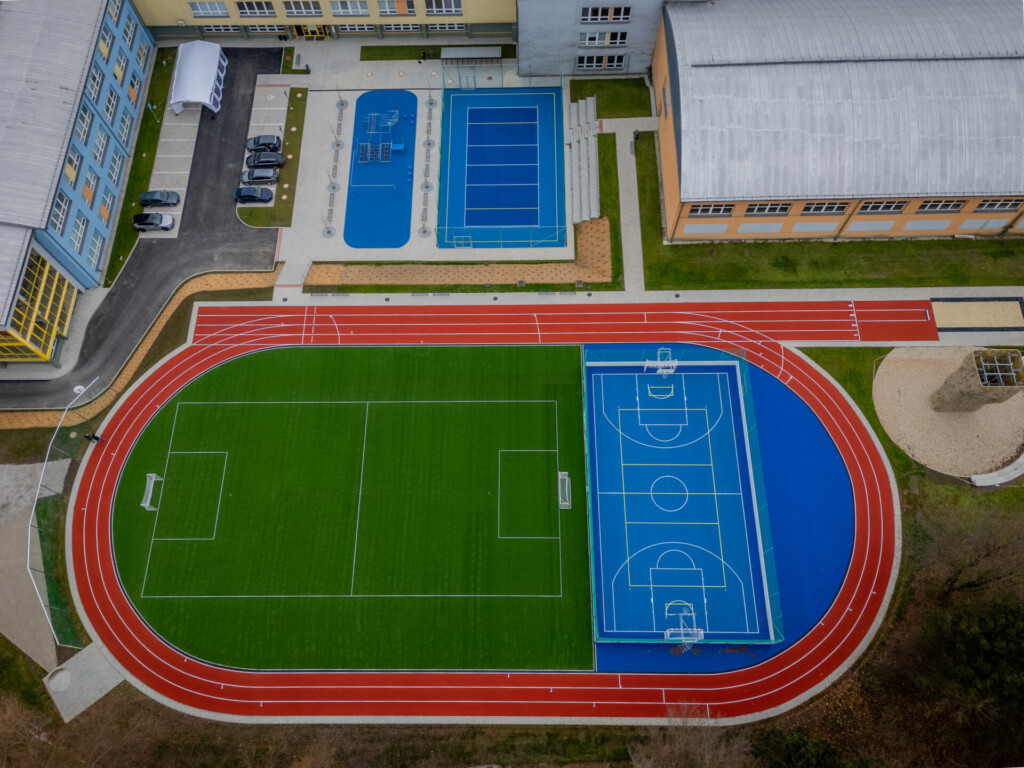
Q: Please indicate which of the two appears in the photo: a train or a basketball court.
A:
basketball court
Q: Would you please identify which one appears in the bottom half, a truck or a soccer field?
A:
soccer field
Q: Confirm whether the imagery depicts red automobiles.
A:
No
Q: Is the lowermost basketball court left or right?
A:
right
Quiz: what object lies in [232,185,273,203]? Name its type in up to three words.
car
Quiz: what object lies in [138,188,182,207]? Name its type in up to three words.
car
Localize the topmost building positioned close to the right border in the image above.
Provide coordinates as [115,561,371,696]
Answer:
[652,0,1024,242]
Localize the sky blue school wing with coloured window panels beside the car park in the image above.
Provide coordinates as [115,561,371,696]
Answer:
[0,0,156,286]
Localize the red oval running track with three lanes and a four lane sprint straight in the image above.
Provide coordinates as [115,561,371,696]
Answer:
[65,301,939,726]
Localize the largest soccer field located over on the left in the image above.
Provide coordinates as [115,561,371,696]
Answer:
[111,344,596,670]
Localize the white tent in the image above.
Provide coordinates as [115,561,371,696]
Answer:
[169,38,232,116]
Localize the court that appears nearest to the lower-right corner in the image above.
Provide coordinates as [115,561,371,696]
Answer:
[587,366,771,641]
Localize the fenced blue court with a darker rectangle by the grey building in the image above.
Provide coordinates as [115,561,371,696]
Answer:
[437,87,565,248]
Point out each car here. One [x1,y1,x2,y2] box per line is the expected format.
[241,166,280,185]
[232,185,273,203]
[138,188,182,207]
[246,150,286,168]
[246,134,282,152]
[131,211,176,231]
